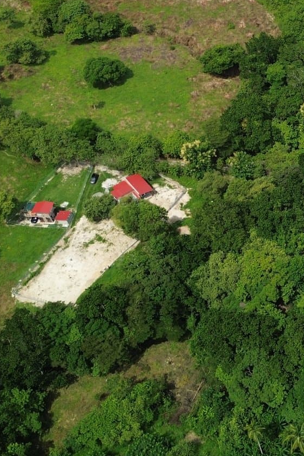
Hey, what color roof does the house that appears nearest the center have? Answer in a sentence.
The color of the roof on the house that appears nearest the center is red.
